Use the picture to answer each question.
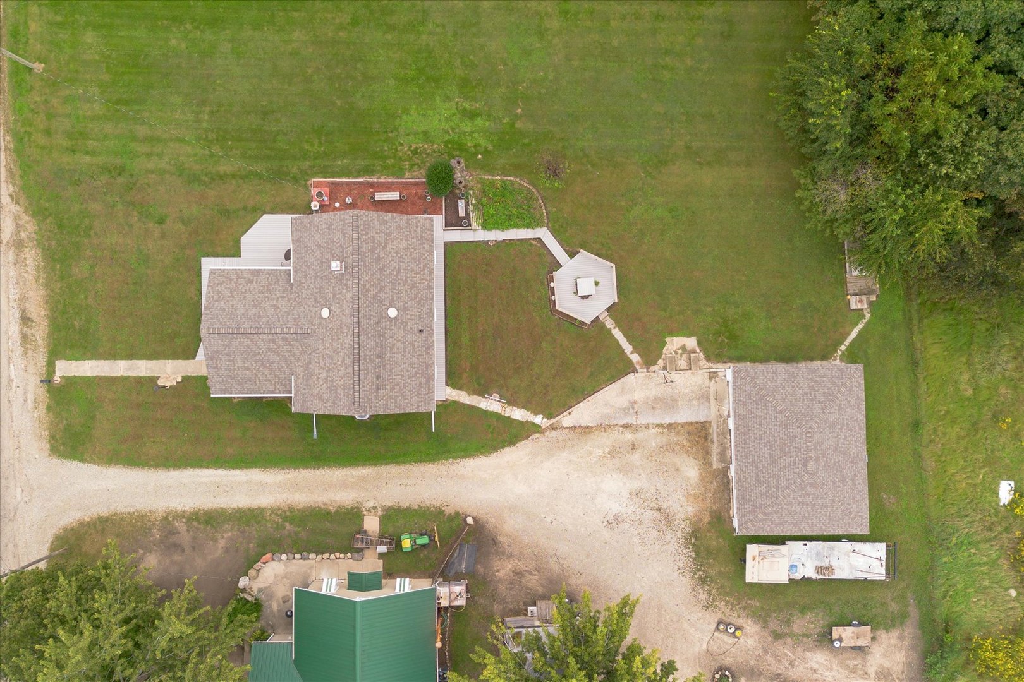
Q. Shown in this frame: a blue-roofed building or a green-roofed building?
green-roofed building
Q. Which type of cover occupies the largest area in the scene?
grass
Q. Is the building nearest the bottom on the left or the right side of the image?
left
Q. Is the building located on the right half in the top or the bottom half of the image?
bottom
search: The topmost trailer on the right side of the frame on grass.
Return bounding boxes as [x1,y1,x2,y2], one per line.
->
[740,537,898,582]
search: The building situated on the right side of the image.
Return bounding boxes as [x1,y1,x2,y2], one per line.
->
[725,363,870,537]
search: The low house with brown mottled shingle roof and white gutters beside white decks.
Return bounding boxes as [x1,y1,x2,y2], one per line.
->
[201,210,439,439]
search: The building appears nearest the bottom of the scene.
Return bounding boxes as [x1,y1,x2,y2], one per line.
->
[247,586,438,682]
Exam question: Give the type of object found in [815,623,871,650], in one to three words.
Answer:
trailer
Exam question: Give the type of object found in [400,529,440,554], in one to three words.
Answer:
work vehicle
